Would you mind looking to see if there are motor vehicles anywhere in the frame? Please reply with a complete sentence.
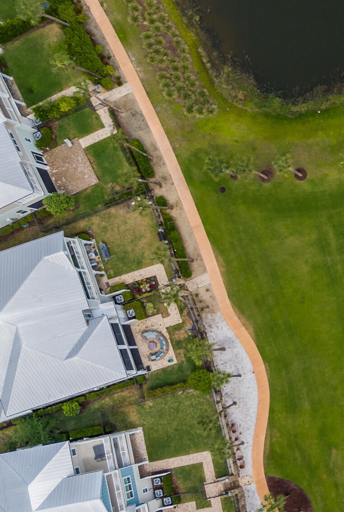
No, the picture doesn't show any motor vehicle.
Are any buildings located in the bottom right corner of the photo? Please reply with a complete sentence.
No, there's no building to be seen in the bottom right corner of the photo.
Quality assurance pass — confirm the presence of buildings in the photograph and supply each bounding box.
[0,231,150,416]
[0,81,60,220]
[0,429,178,512]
